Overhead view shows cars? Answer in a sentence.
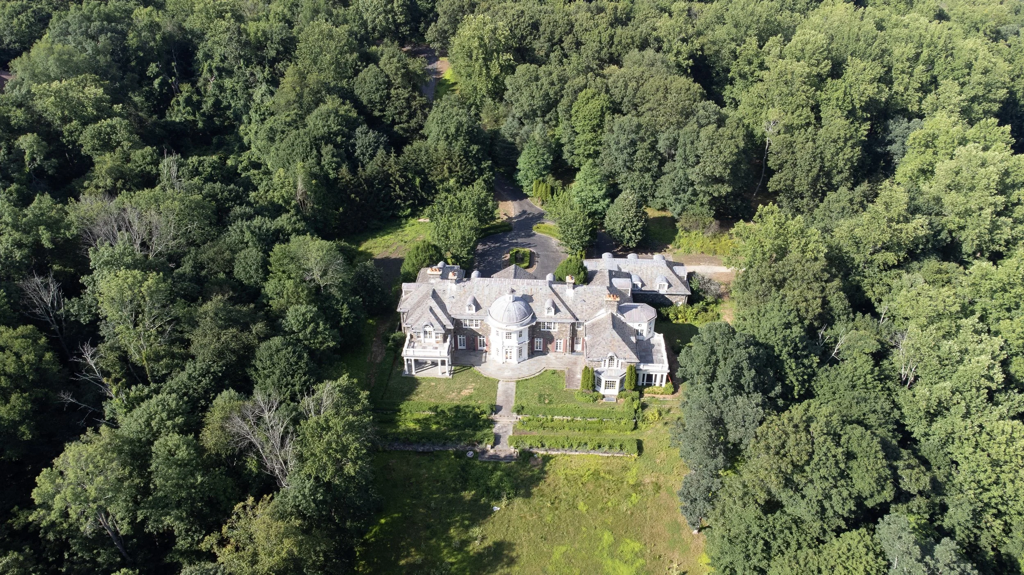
No, there appears to be no car in this shot.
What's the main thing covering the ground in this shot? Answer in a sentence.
The scene is dominated by trees.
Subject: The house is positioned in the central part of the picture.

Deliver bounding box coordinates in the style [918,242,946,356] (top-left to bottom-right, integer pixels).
[395,248,692,401]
